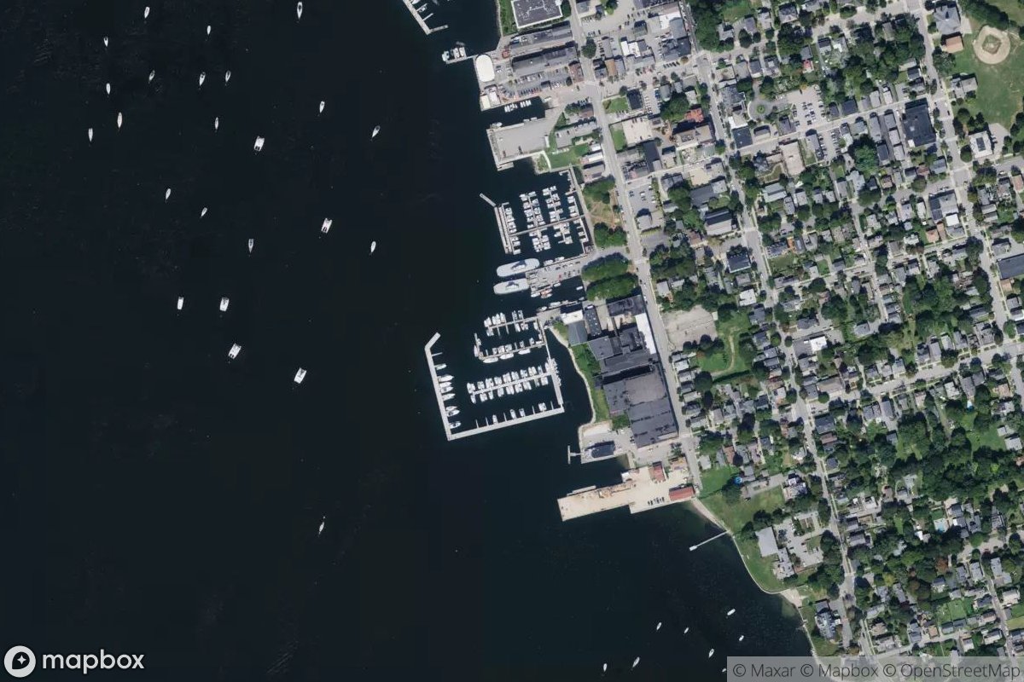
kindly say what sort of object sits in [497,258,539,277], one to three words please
ship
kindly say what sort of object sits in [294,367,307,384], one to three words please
boat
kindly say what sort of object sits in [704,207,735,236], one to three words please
building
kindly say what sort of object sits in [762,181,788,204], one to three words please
house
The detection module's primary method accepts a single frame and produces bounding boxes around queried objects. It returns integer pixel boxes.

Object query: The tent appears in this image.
[476,54,494,82]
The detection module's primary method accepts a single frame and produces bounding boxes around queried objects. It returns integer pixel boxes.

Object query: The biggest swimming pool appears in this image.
[933,518,949,534]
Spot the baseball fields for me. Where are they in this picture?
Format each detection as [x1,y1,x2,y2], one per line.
[971,25,1012,67]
